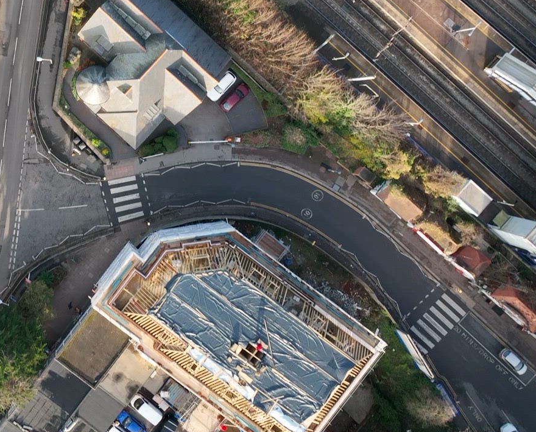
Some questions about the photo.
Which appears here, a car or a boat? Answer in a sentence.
Looking from above, you can make out a car.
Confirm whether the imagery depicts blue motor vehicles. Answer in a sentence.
Yes, the frame does contain a blue motor vehicle.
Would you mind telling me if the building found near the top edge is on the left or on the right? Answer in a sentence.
The building found near the top edge sits on the left side.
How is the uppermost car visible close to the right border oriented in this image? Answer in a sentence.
In this picture, the uppermost car visible close to the right border lies on a diagonal.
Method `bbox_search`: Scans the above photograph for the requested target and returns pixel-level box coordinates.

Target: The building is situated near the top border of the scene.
[74,0,232,150]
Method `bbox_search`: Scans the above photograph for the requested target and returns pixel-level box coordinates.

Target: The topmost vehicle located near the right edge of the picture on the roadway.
[496,345,529,376]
